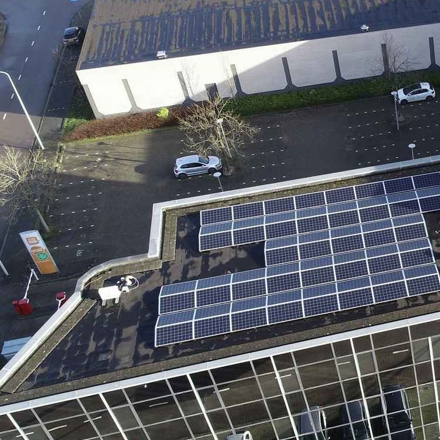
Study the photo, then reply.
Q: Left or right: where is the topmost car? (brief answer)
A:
left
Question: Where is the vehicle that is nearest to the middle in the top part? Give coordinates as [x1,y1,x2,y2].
[170,150,221,175]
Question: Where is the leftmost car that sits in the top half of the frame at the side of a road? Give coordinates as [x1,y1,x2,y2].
[61,22,82,42]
